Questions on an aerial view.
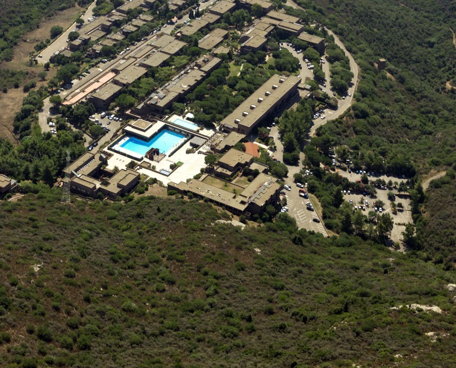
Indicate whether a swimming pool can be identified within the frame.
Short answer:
Yes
